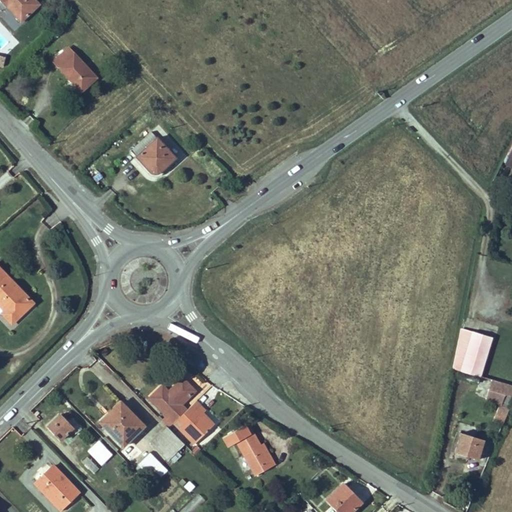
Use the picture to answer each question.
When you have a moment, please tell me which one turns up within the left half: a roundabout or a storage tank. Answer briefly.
roundabout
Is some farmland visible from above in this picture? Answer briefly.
Yes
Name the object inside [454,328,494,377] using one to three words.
barn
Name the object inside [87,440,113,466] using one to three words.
shed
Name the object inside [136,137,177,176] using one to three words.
house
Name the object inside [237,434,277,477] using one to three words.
house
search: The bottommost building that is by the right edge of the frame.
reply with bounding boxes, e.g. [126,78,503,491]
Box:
[455,434,486,461]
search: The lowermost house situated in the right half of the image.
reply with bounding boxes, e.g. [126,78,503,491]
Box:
[326,484,364,512]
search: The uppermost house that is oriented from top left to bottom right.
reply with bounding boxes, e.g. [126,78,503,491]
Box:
[54,46,98,92]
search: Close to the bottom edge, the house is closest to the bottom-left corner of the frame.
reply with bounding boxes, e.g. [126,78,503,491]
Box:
[34,466,80,512]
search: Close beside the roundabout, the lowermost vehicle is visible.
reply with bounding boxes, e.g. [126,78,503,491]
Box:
[167,324,198,342]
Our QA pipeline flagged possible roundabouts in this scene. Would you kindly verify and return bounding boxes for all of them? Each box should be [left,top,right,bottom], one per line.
[92,224,204,328]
